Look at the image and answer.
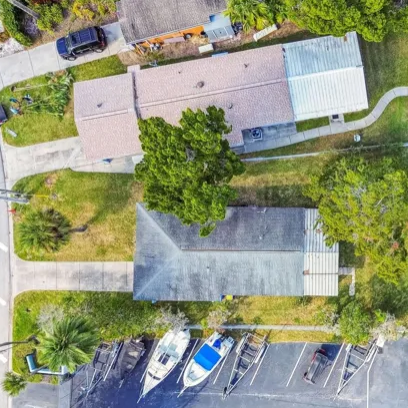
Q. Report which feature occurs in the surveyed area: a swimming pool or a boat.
boat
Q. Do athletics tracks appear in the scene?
No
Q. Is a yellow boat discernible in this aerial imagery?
No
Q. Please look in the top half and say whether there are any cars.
Yes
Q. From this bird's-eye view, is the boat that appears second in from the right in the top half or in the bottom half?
bottom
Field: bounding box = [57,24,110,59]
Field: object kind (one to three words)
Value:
car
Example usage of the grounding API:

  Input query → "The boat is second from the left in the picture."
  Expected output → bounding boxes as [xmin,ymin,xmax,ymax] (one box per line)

[139,326,194,404]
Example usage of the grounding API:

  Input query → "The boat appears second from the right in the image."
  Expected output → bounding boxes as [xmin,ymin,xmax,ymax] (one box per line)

[182,330,236,390]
